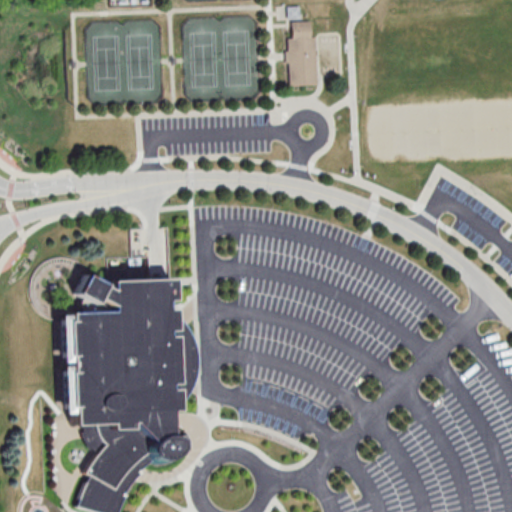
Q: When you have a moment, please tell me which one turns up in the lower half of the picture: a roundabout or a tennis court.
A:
roundabout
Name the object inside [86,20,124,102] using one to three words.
tennis court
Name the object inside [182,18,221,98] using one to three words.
tennis court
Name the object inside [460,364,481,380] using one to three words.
vehicle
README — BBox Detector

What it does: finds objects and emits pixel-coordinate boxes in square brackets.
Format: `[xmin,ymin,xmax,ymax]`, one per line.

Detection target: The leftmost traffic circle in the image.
[191,447,271,512]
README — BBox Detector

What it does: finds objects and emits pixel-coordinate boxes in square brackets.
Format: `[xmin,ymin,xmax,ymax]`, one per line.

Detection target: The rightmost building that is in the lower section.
[64,273,200,512]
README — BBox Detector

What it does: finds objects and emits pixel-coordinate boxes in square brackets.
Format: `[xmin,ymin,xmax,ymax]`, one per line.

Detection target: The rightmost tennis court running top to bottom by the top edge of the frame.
[220,16,256,98]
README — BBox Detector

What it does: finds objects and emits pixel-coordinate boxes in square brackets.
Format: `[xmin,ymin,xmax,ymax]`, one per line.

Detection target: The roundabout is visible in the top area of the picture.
[286,110,328,152]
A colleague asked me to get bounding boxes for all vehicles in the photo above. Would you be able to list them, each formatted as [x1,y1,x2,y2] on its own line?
[488,340,508,352]
[504,366,512,374]
[264,114,270,125]
[460,364,481,380]
[355,376,364,387]
[495,348,512,360]
[480,332,501,344]
[498,357,512,368]
[432,398,442,407]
